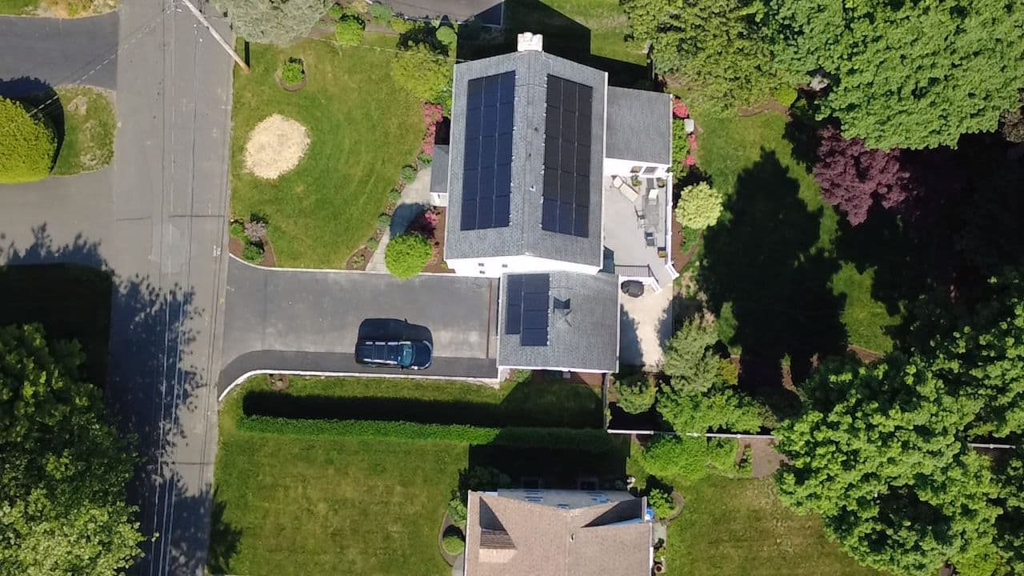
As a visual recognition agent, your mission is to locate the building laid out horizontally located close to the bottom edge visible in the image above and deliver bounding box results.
[465,486,658,576]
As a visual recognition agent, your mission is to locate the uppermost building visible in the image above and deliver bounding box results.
[424,28,674,273]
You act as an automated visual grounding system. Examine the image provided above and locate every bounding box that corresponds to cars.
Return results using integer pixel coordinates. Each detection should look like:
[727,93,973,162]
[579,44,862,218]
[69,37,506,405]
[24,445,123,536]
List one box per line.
[354,336,434,374]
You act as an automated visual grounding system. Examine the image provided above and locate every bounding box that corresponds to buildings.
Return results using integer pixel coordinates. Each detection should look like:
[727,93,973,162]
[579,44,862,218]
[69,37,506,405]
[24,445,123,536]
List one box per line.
[424,28,674,273]
[465,486,658,576]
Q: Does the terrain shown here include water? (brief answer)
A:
No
